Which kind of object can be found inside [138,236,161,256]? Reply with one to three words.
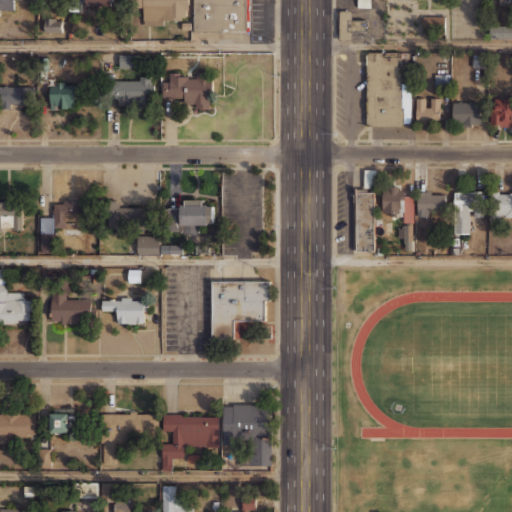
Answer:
building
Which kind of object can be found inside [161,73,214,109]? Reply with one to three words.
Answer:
house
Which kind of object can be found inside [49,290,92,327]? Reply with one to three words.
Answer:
house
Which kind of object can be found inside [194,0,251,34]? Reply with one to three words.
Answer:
building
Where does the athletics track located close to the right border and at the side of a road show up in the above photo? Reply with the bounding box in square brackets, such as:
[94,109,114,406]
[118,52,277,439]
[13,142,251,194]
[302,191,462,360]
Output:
[352,292,512,442]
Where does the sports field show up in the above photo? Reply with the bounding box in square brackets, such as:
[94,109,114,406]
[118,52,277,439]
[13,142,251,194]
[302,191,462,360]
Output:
[414,315,512,415]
